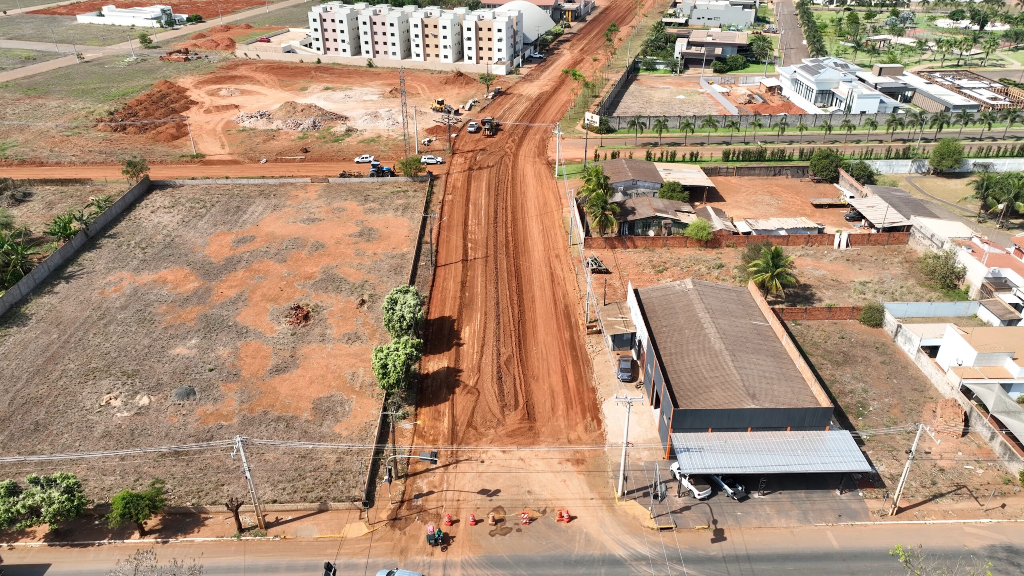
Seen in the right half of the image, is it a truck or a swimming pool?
truck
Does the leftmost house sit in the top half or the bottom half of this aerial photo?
top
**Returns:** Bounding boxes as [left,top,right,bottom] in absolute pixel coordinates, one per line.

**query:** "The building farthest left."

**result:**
[77,5,189,30]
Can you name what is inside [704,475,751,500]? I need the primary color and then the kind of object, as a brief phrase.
black truck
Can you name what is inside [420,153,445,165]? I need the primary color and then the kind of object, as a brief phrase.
white vehicle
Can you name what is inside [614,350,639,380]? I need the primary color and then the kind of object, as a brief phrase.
gray car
